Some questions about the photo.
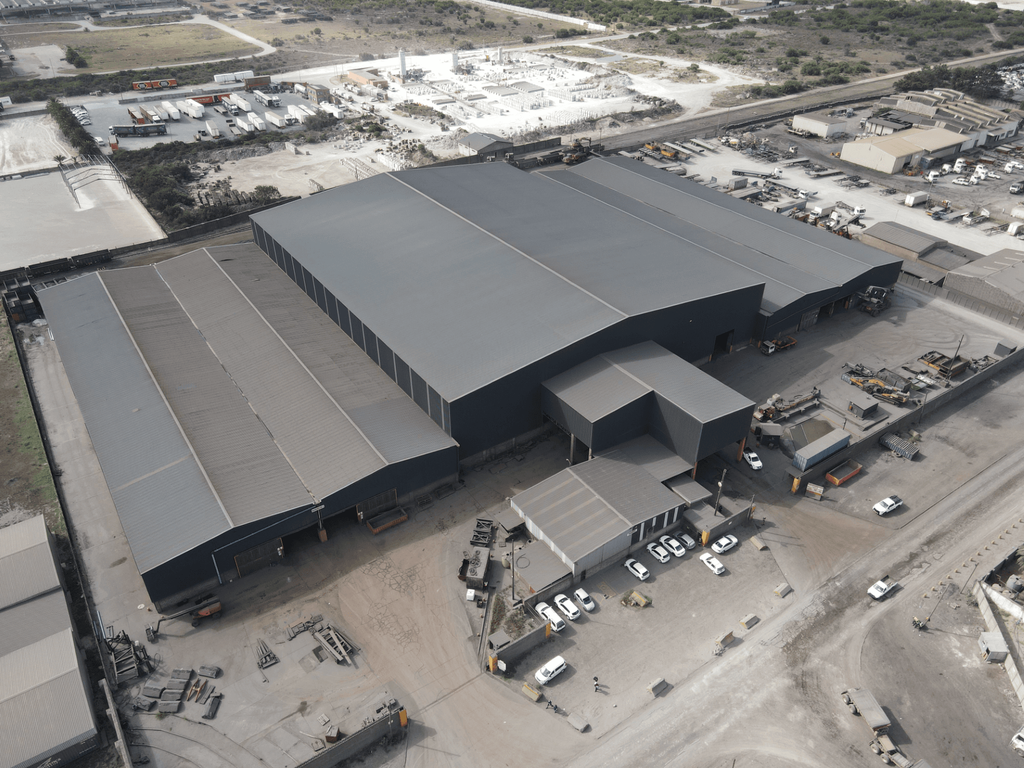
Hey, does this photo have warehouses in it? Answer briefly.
Yes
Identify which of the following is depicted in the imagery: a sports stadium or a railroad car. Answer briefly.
railroad car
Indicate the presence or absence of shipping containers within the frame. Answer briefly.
Yes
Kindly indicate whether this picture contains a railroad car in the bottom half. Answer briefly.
No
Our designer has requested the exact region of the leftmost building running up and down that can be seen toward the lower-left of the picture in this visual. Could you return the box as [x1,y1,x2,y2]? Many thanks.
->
[0,514,116,768]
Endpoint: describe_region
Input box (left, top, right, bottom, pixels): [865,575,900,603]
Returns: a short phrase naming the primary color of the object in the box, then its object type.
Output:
white truck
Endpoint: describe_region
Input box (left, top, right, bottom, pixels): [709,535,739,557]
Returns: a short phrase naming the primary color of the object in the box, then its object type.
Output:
white car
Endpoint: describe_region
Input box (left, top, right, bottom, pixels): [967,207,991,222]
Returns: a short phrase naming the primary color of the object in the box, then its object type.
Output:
white vehicle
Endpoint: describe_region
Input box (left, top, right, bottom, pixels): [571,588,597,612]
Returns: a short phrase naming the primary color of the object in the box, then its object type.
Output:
white car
